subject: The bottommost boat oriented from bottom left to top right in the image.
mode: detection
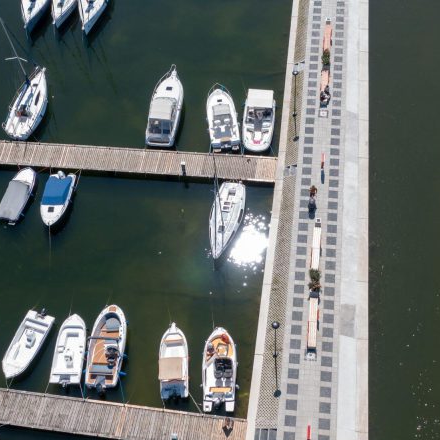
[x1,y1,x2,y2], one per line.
[3,305,55,379]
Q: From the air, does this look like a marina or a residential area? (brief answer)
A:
marina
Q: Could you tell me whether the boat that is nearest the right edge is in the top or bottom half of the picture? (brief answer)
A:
top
